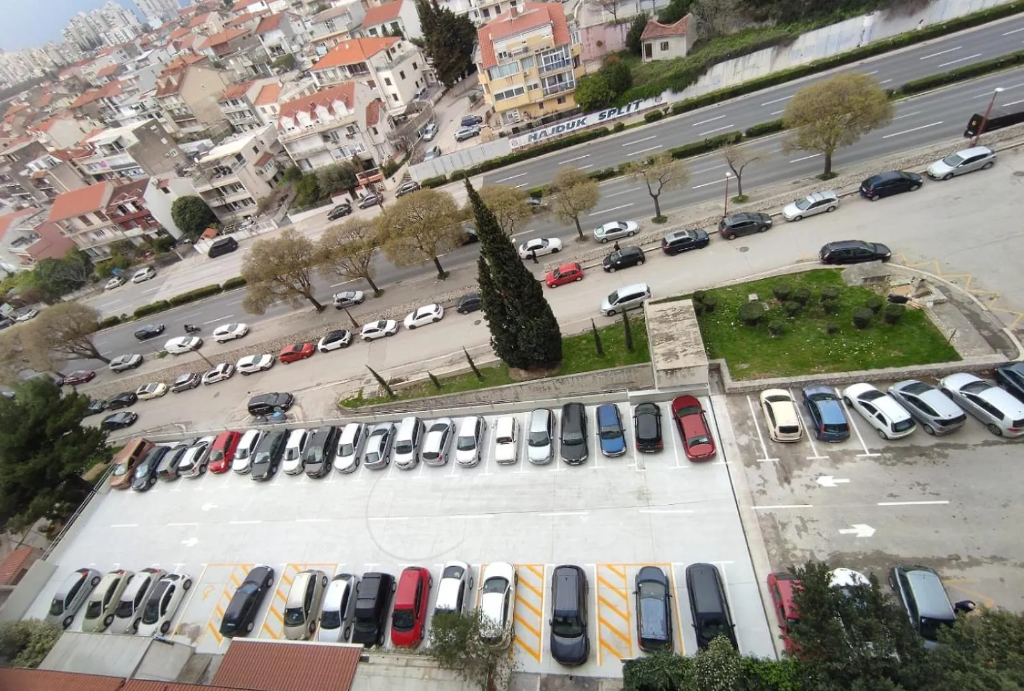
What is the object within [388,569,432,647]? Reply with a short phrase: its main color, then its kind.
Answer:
red car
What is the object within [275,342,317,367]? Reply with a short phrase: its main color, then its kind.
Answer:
red car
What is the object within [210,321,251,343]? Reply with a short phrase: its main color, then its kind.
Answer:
white car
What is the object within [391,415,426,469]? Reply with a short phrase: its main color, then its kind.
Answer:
white car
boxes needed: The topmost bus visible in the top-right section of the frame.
[961,96,1024,138]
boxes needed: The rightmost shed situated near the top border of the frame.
[639,6,701,64]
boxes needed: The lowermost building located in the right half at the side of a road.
[644,299,709,384]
